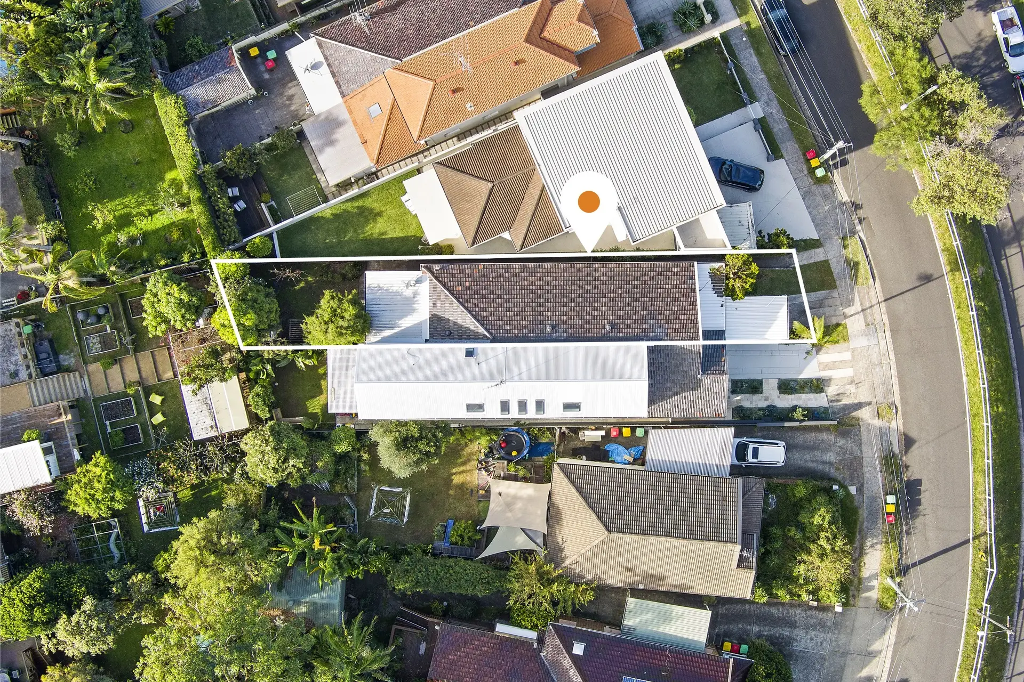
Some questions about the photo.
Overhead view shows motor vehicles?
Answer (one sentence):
Yes, a motor vehicle appears in the view.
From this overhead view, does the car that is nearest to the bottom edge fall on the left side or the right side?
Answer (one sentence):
The car that is nearest to the bottom edge appears in the right half of the scene.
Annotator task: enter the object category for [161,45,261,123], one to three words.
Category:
building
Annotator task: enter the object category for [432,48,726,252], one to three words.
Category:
house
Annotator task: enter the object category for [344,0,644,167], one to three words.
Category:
house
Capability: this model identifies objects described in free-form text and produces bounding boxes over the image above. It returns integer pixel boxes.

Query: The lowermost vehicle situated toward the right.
[732,438,788,466]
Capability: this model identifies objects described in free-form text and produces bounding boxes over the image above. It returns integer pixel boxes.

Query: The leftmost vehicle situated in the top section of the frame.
[711,157,765,191]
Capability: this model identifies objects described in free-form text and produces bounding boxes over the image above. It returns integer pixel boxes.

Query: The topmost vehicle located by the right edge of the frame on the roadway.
[995,5,1024,72]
